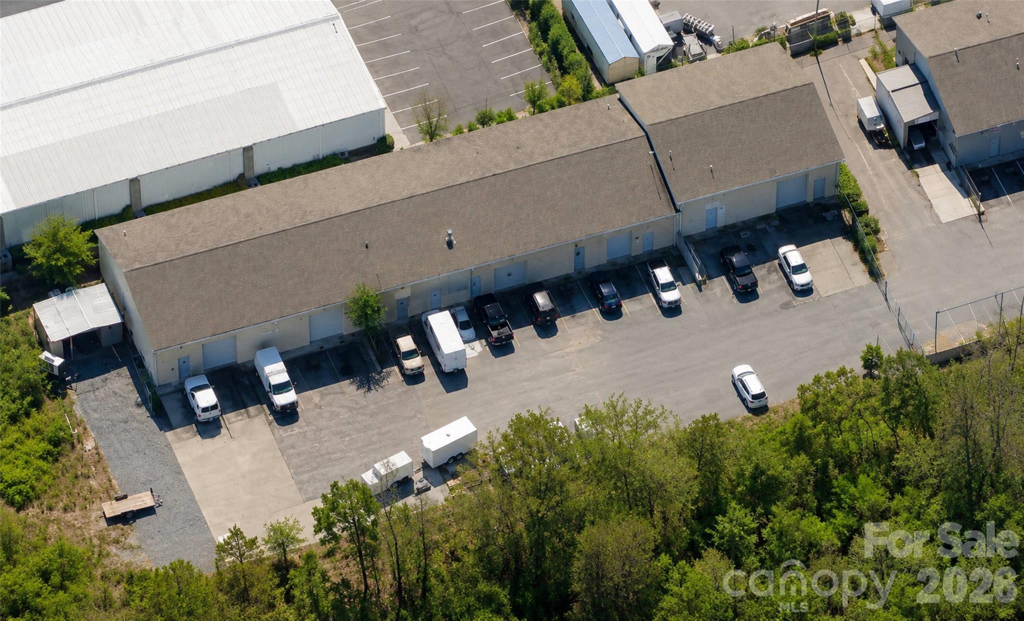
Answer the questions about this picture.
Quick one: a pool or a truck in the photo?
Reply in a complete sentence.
There is a truck in the scene.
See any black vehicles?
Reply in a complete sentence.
Yes, the photo shows a black vehicle.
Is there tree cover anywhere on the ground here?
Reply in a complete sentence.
Yes, some tree cover is visible.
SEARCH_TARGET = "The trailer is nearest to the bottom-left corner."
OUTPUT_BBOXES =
[99,486,164,522]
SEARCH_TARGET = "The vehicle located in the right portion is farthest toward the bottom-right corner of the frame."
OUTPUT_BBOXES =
[731,367,770,412]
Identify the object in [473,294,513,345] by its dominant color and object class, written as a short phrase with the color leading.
black truck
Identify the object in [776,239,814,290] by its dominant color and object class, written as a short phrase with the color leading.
white car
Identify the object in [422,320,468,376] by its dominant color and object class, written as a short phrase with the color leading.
white truck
